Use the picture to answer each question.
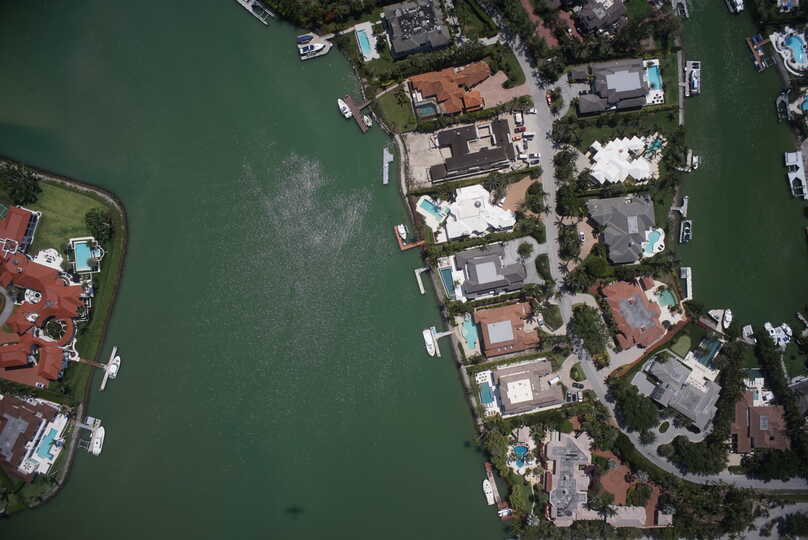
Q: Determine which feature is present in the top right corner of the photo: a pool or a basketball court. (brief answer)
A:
pool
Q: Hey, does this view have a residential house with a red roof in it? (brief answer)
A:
Yes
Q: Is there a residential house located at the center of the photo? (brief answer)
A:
Yes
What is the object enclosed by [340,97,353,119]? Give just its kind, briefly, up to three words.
boat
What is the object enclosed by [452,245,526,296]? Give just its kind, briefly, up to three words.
house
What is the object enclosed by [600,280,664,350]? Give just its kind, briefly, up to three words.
house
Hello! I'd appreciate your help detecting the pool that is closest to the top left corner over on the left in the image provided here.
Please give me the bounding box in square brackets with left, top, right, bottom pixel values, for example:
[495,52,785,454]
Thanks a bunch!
[67,237,103,273]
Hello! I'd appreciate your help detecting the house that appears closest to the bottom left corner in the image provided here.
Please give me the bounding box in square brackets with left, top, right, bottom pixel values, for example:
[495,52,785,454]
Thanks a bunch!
[0,394,59,478]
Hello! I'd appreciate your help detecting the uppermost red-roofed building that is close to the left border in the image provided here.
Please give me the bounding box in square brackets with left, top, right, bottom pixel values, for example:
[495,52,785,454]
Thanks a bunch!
[0,207,88,381]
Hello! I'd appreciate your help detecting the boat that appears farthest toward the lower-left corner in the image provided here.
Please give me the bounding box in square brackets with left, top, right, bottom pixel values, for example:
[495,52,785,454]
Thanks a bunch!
[89,427,103,458]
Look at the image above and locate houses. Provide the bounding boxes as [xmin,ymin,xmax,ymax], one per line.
[0,207,88,381]
[649,348,727,429]
[585,196,656,264]
[546,431,646,527]
[472,301,539,357]
[384,0,451,54]
[590,135,653,184]
[600,280,664,350]
[728,392,790,451]
[408,60,490,114]
[442,184,514,241]
[452,245,526,296]
[428,120,514,180]
[0,394,59,478]
[572,58,649,115]
[494,359,564,415]
[573,0,624,35]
